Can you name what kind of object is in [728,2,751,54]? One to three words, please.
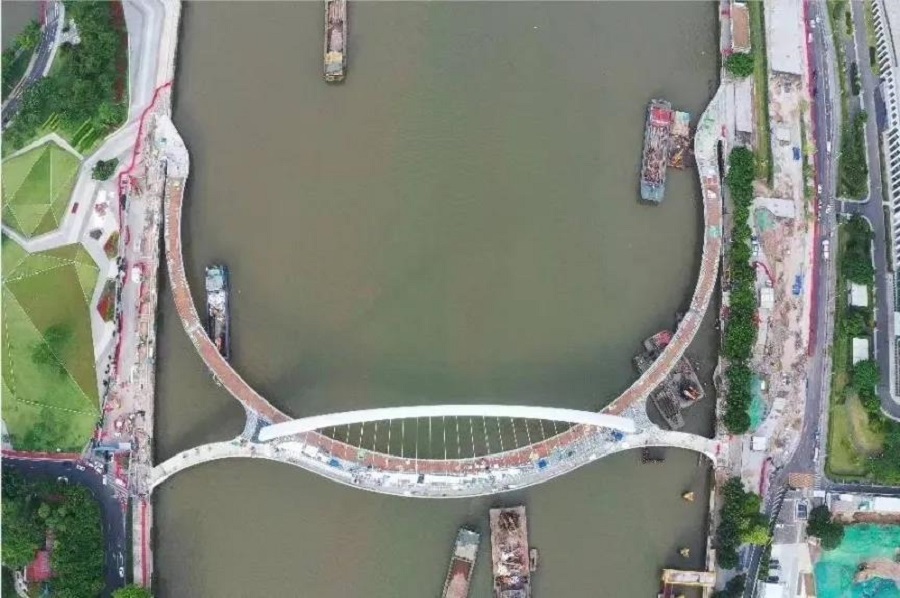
building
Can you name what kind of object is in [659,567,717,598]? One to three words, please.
pier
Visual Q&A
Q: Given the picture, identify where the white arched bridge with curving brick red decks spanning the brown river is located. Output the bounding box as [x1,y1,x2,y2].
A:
[150,84,735,499]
